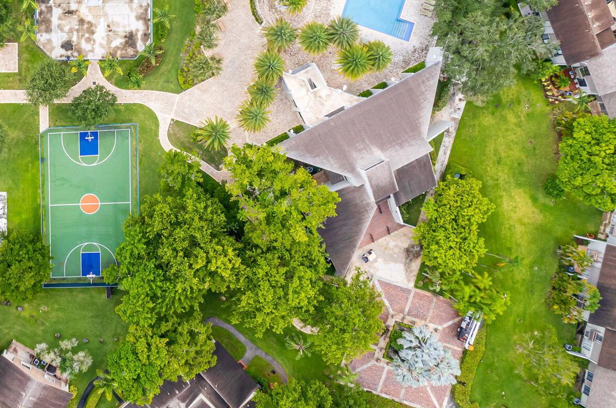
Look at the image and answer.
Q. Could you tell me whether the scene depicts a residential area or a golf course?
residential area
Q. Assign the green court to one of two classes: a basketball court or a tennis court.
basketball court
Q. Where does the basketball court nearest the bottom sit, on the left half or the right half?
left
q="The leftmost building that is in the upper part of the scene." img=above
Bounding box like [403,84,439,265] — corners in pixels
[272,48,452,269]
